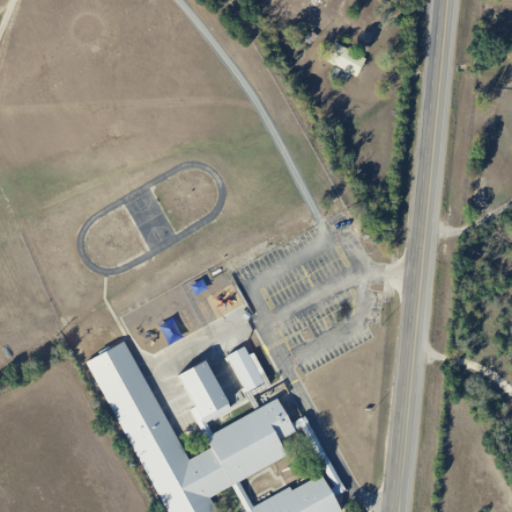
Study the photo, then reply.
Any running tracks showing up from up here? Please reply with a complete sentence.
Yes, there's a running track down there.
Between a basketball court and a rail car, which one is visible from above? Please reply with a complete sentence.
I can see a basketball court in this picture.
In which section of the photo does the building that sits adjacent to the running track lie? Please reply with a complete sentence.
You can find the building that sits adjacent to the running track in the bottom area of the picture.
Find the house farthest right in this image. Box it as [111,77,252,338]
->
[329,44,366,76]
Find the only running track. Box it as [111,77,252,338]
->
[78,162,226,274]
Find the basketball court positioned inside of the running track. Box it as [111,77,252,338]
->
[126,189,176,250]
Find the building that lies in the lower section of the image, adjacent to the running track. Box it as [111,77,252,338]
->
[87,342,342,512]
